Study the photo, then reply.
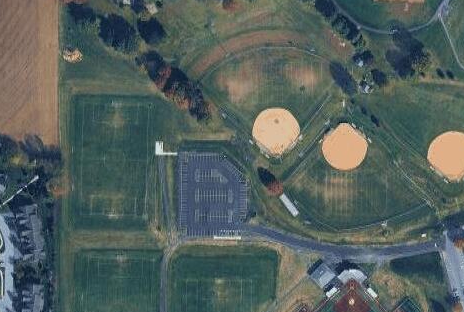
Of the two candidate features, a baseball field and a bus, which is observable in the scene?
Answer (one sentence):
This aerial view contains a baseball field.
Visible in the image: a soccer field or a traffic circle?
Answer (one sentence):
The image shows a soccer field.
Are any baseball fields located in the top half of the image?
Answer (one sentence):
Yes, there is a baseball field in the top half of the image.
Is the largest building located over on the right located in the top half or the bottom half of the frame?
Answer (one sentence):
The largest building located over on the right is in the bottom half of the image.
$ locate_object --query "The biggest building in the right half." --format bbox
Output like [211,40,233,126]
[312,263,337,289]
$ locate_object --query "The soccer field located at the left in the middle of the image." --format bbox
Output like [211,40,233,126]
[72,94,160,230]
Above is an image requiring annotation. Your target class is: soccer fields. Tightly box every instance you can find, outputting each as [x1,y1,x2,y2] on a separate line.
[170,252,278,312]
[72,94,160,230]
[74,250,163,312]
